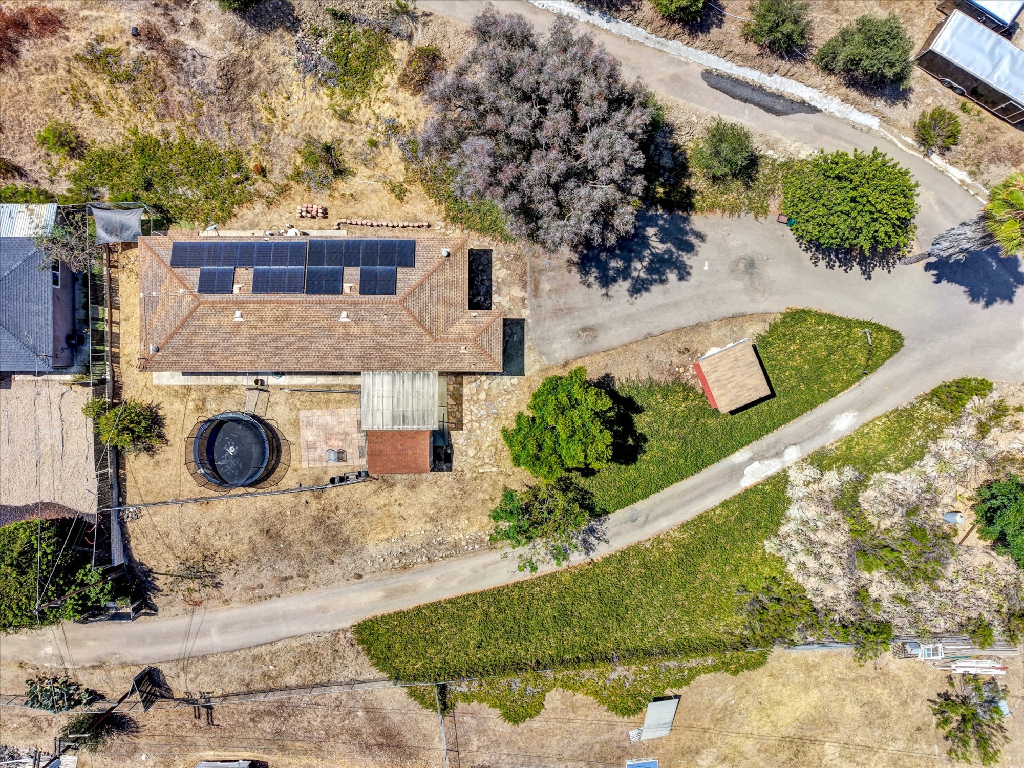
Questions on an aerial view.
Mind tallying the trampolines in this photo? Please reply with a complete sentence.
Just 1 trampoline appears in this view.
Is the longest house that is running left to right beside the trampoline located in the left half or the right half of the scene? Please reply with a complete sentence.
The longest house that is running left to right beside the trampoline sits on the left side.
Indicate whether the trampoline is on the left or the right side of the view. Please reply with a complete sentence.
The trampoline sits on the left side.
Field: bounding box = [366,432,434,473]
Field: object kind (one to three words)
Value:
shed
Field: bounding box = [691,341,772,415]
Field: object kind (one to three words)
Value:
shed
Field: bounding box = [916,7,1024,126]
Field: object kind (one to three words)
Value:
trailer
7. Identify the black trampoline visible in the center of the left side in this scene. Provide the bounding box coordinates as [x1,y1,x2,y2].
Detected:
[179,409,274,494]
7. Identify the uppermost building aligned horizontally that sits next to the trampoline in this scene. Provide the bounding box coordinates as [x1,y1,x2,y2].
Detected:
[129,231,503,372]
